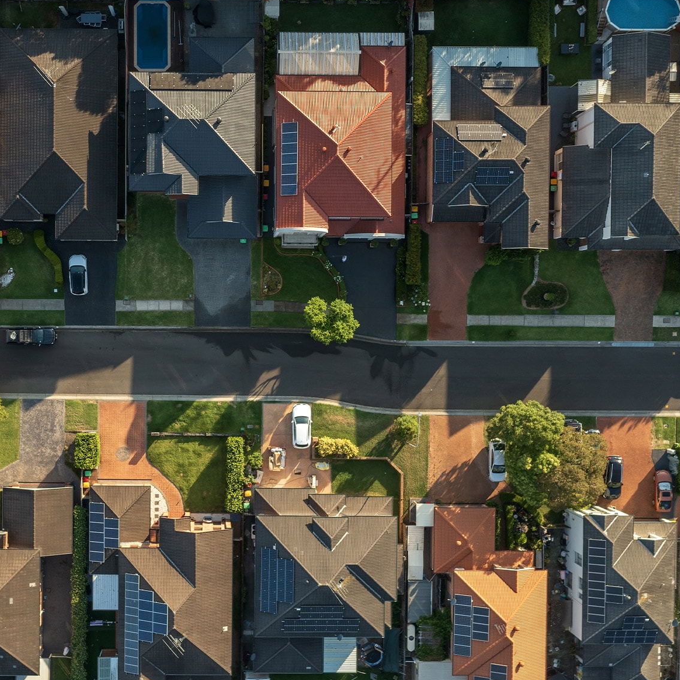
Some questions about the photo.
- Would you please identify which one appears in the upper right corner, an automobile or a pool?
pool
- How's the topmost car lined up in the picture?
from top to bottom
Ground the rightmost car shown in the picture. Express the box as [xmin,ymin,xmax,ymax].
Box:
[652,469,673,514]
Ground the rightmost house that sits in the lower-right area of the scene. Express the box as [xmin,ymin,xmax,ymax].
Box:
[566,503,680,680]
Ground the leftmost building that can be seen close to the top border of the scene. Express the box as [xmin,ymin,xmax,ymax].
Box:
[0,27,118,242]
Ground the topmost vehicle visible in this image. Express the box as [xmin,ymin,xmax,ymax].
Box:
[67,254,88,295]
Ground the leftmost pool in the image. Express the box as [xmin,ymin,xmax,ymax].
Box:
[134,0,171,72]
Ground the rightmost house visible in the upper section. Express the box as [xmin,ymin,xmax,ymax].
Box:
[557,30,680,251]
